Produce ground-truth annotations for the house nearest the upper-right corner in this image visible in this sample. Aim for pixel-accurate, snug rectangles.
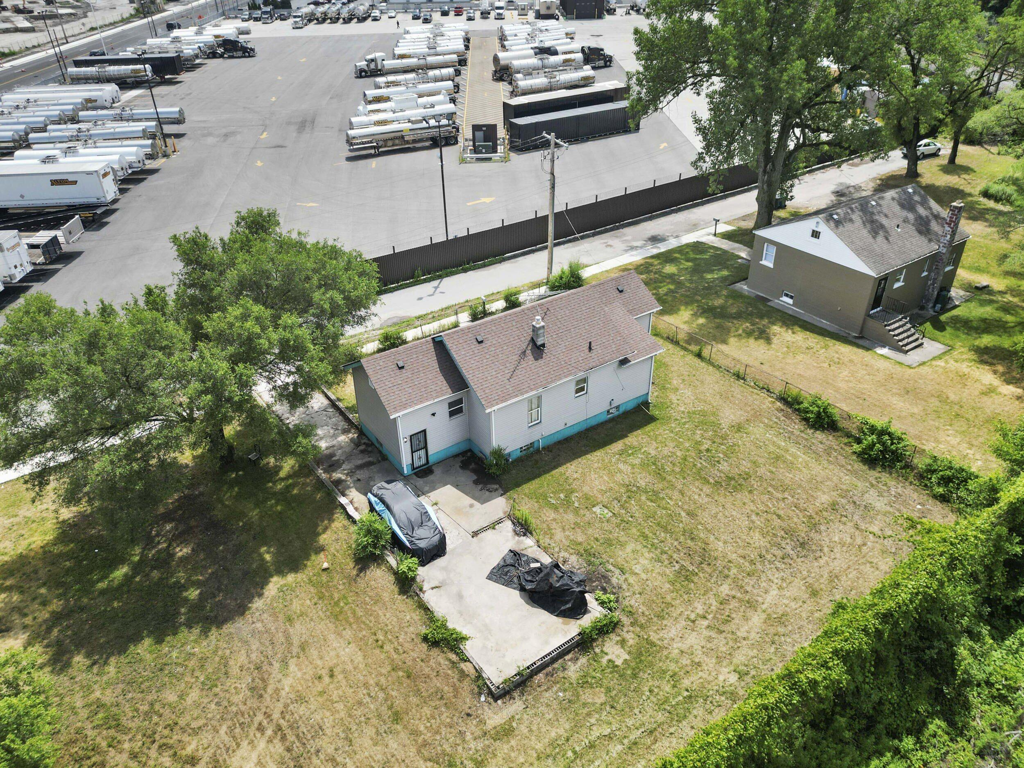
[746,184,978,353]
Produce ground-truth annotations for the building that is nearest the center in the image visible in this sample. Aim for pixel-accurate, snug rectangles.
[342,266,668,474]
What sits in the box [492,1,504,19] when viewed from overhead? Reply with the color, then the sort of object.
white vehicle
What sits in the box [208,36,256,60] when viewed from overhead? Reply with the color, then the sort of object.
black truck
